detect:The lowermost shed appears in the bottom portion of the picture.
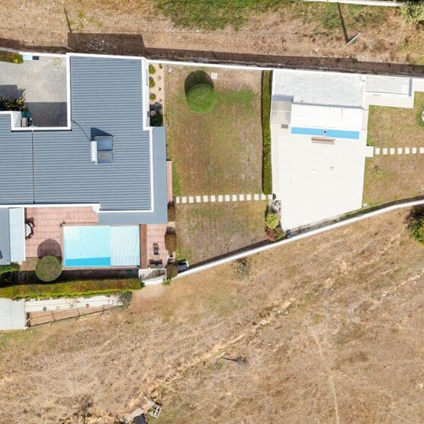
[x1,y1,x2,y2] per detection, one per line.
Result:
[0,297,31,330]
